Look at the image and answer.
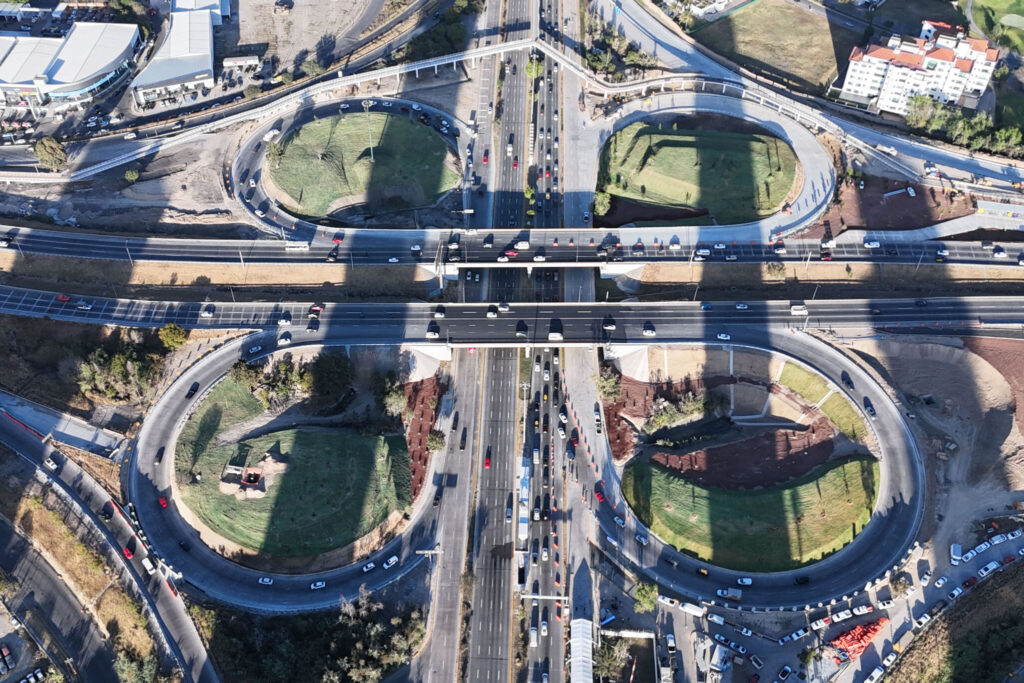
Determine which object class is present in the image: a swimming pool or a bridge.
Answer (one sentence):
Looking from above, you can make out a bridge.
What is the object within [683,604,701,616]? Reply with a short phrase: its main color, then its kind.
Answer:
white vehicle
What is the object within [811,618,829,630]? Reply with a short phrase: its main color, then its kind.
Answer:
white vehicle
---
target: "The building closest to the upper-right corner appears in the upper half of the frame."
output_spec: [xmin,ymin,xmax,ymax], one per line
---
[835,17,1007,116]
